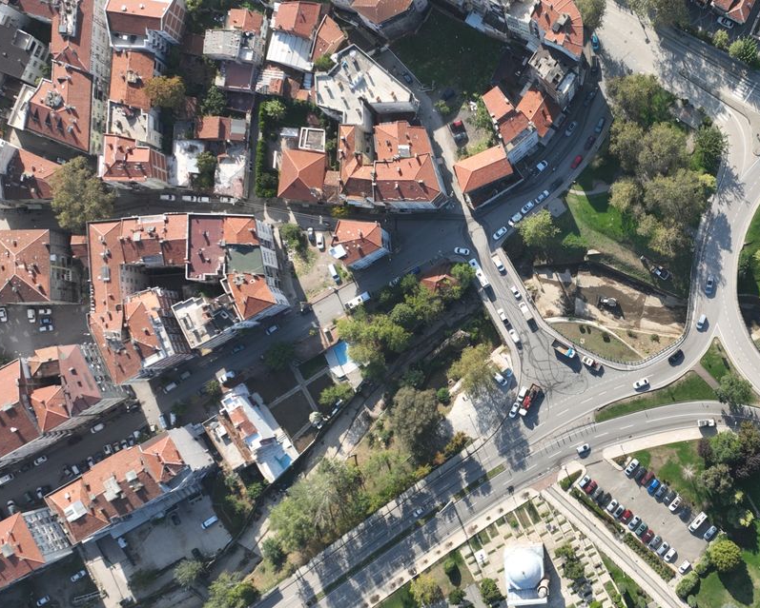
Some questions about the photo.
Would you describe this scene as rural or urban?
urban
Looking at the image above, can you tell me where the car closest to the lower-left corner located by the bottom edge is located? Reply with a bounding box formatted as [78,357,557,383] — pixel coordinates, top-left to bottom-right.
[35,594,54,607]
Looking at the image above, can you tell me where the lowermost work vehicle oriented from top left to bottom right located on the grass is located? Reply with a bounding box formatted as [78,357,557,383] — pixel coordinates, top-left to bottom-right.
[642,258,669,282]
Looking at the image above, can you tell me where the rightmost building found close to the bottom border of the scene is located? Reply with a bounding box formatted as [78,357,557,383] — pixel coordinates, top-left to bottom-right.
[503,537,552,607]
